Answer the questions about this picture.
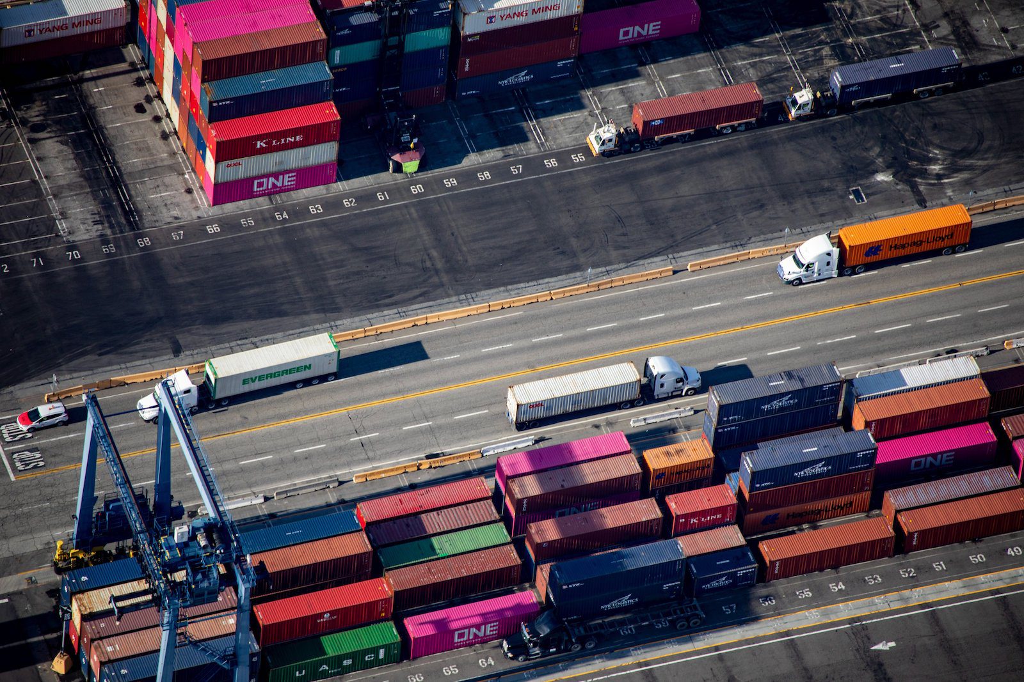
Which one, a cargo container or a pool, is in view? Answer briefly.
cargo container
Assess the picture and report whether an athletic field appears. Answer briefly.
No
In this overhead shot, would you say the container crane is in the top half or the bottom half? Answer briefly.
bottom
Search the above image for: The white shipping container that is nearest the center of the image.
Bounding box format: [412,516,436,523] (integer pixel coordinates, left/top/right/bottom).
[504,361,641,424]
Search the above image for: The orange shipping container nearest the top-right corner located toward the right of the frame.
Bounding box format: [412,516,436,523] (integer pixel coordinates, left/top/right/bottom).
[838,205,970,265]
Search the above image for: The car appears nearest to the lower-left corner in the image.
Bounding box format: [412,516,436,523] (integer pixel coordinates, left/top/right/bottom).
[14,400,66,431]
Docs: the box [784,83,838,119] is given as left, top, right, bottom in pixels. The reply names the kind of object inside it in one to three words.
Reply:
truck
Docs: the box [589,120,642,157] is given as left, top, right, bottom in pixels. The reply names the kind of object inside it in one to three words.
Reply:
truck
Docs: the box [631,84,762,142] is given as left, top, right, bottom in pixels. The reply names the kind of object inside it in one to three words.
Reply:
shipping container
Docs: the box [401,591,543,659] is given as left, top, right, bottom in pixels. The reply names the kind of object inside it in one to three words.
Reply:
shipping container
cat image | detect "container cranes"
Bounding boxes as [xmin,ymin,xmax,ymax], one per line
[46,367,274,682]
